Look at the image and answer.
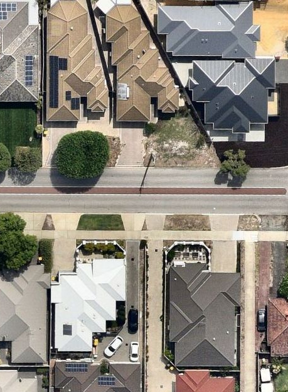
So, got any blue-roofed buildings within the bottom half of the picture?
No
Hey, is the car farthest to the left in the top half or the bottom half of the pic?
bottom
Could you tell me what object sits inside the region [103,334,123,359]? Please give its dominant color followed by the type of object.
white car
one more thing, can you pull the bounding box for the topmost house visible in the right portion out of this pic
[156,1,260,59]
